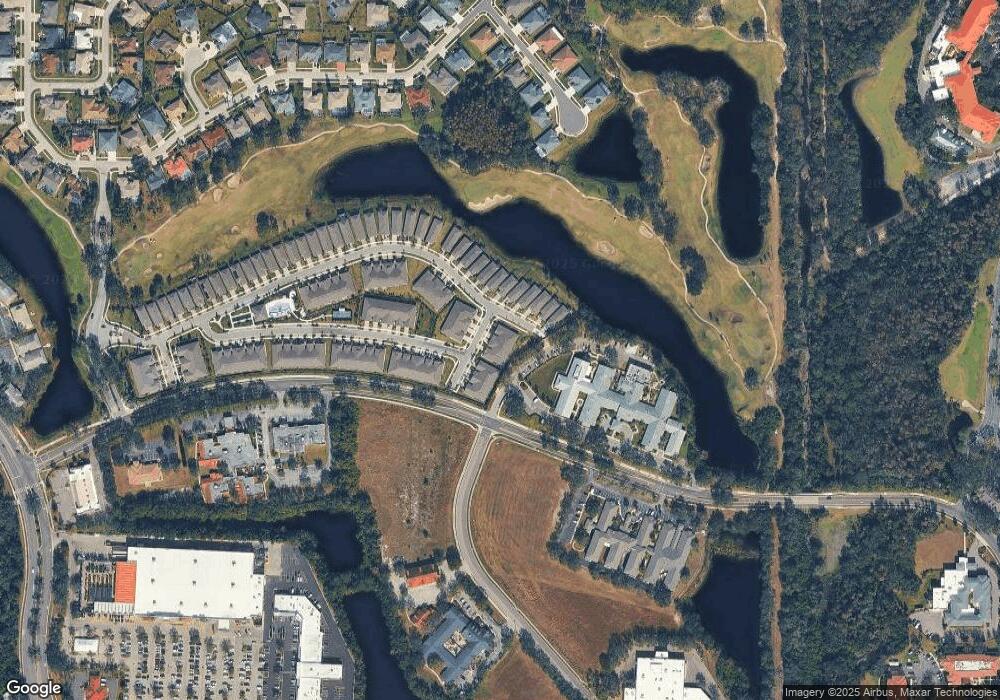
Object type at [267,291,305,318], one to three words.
swimming pool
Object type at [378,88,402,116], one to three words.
house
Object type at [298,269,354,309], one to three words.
building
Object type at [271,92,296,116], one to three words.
house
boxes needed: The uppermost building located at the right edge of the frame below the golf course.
[933,557,991,624]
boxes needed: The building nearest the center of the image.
[480,324,520,365]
